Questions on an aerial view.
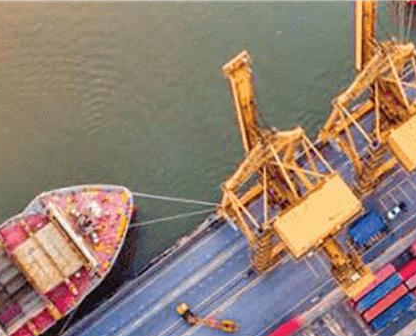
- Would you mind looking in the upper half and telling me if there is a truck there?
No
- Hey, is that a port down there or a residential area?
port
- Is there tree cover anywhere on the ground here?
No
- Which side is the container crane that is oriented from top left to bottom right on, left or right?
right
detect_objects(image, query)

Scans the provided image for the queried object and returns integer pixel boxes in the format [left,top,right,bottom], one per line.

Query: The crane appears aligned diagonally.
[211,37,381,299]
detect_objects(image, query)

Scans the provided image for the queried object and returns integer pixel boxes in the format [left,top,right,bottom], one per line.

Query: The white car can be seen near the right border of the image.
[385,205,401,220]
